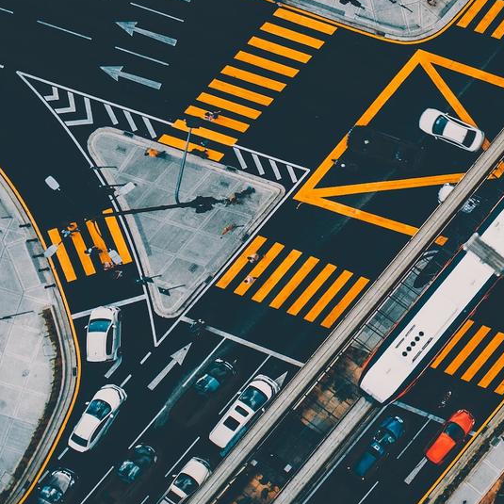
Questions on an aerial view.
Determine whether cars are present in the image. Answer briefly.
Yes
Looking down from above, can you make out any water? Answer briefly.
No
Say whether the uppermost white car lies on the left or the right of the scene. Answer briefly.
right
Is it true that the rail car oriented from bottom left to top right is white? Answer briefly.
Yes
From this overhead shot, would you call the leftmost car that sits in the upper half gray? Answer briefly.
No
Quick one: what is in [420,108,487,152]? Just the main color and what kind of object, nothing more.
white car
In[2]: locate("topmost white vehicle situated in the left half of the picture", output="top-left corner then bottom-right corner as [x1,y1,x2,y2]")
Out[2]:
[85,303,122,362]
